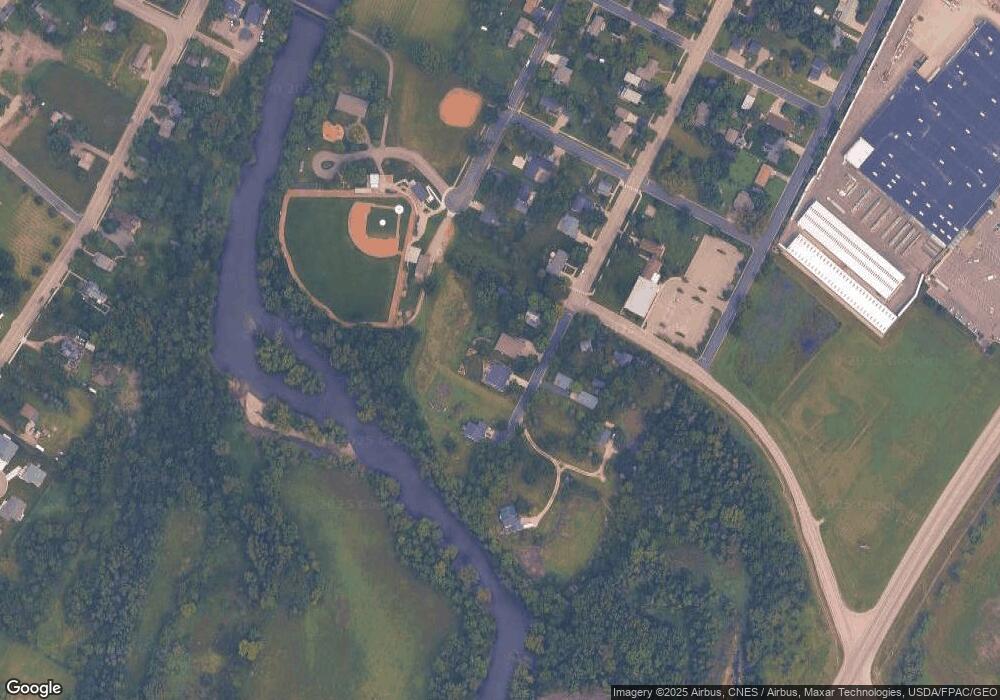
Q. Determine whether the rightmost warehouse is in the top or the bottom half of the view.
top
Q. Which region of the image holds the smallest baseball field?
top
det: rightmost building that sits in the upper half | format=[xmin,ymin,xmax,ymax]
[860,21,1000,246]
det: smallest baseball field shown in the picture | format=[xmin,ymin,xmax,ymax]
[438,87,482,128]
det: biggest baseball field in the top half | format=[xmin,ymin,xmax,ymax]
[279,188,416,329]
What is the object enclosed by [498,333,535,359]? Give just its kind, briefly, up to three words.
house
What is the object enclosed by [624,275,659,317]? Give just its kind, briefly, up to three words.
building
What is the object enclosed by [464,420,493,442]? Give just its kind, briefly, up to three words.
house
